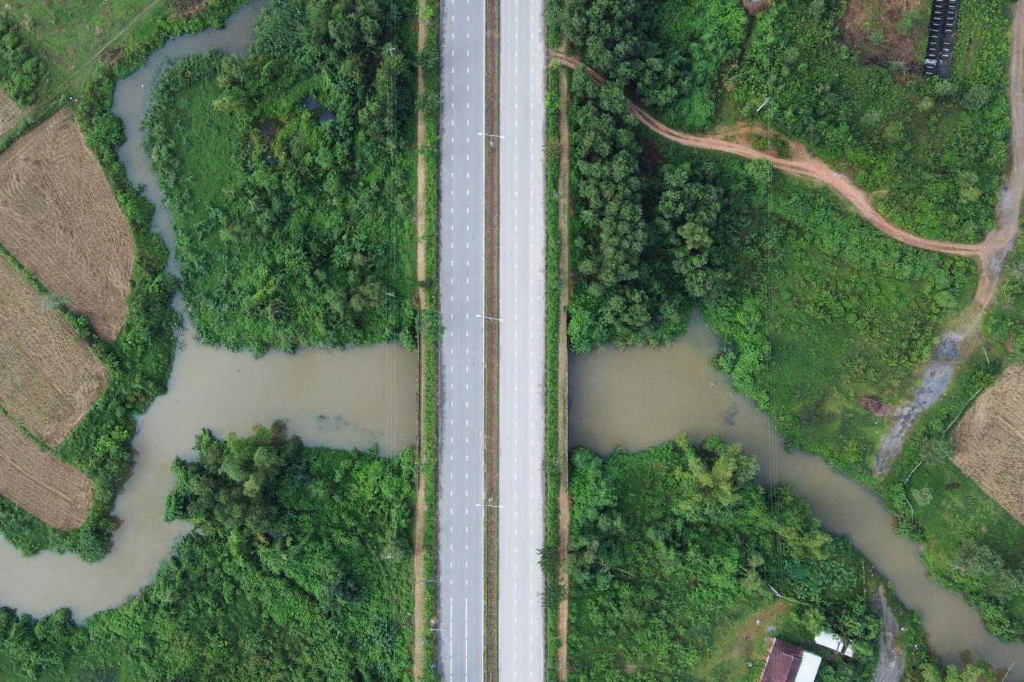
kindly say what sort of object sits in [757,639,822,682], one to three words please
house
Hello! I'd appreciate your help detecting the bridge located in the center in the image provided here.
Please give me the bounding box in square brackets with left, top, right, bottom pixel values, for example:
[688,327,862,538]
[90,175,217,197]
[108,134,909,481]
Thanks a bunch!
[416,303,569,495]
